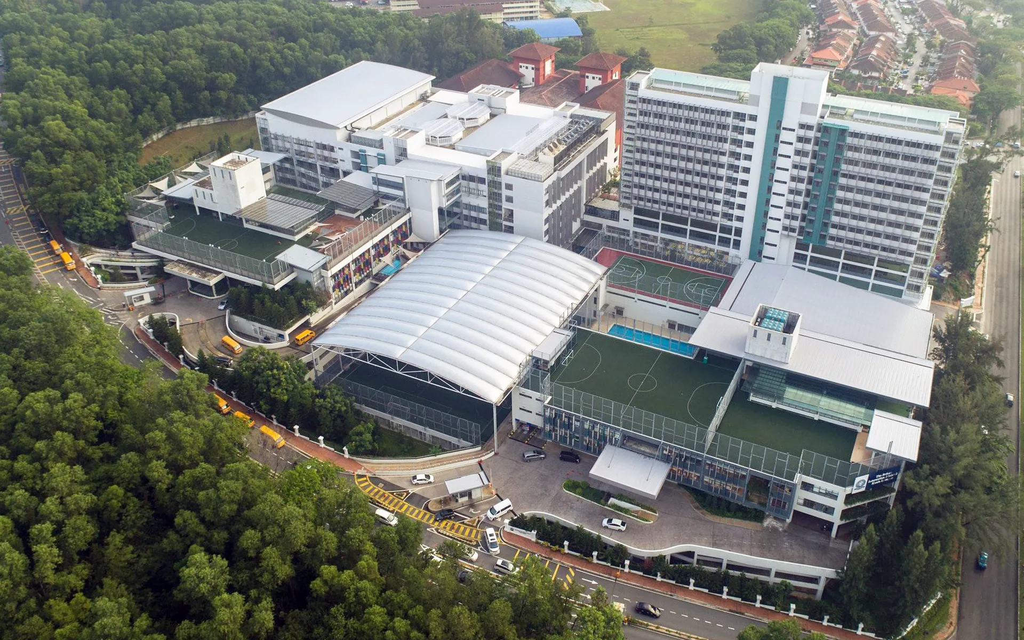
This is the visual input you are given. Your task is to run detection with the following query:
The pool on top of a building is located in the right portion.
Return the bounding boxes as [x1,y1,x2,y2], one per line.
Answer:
[589,310,703,358]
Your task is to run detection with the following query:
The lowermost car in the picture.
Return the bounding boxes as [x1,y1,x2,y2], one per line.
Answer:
[635,601,663,618]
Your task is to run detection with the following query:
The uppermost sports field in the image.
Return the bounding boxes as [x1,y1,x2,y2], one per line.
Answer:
[575,0,777,98]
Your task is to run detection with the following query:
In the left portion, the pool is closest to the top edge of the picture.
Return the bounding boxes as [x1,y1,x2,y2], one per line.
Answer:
[371,242,416,280]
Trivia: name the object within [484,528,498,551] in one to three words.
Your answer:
car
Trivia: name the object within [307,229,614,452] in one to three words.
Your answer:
building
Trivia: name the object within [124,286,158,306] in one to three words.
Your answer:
shed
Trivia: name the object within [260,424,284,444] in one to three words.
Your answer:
vehicle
